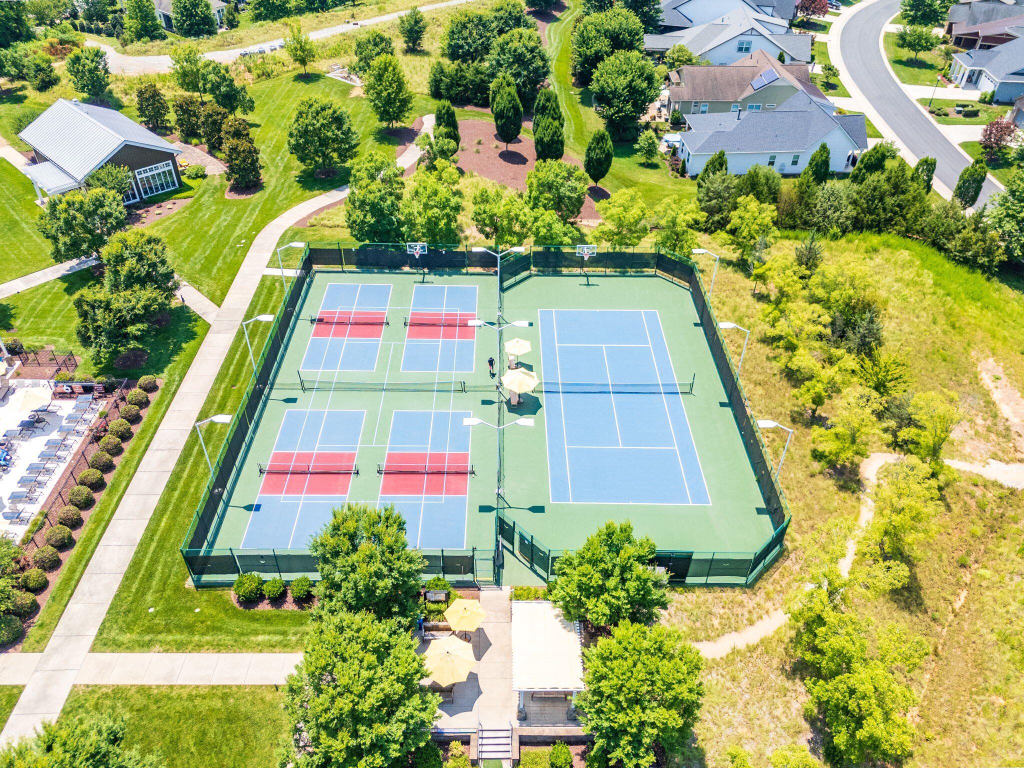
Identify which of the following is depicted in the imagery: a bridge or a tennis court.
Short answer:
tennis court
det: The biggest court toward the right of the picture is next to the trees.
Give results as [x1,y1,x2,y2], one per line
[498,270,786,588]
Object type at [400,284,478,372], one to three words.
sports court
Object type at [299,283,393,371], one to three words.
sports court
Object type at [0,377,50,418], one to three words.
umbrella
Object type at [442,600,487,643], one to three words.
umbrella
